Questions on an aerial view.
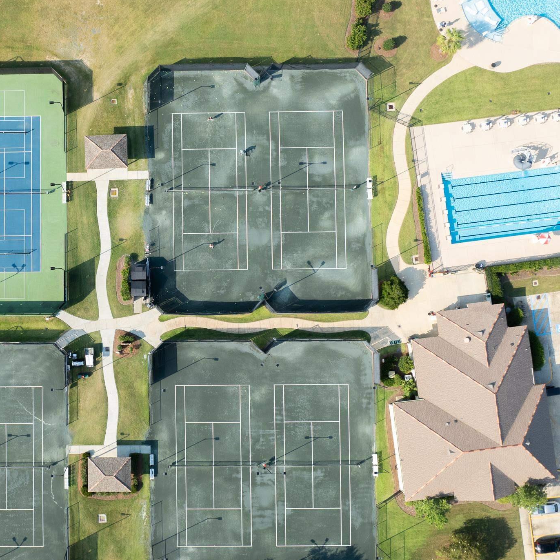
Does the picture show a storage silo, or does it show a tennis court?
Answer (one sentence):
The one in the frame is a tennis court.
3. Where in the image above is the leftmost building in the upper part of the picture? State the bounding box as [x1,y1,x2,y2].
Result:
[84,134,129,172]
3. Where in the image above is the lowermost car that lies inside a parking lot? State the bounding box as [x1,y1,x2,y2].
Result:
[535,538,560,555]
